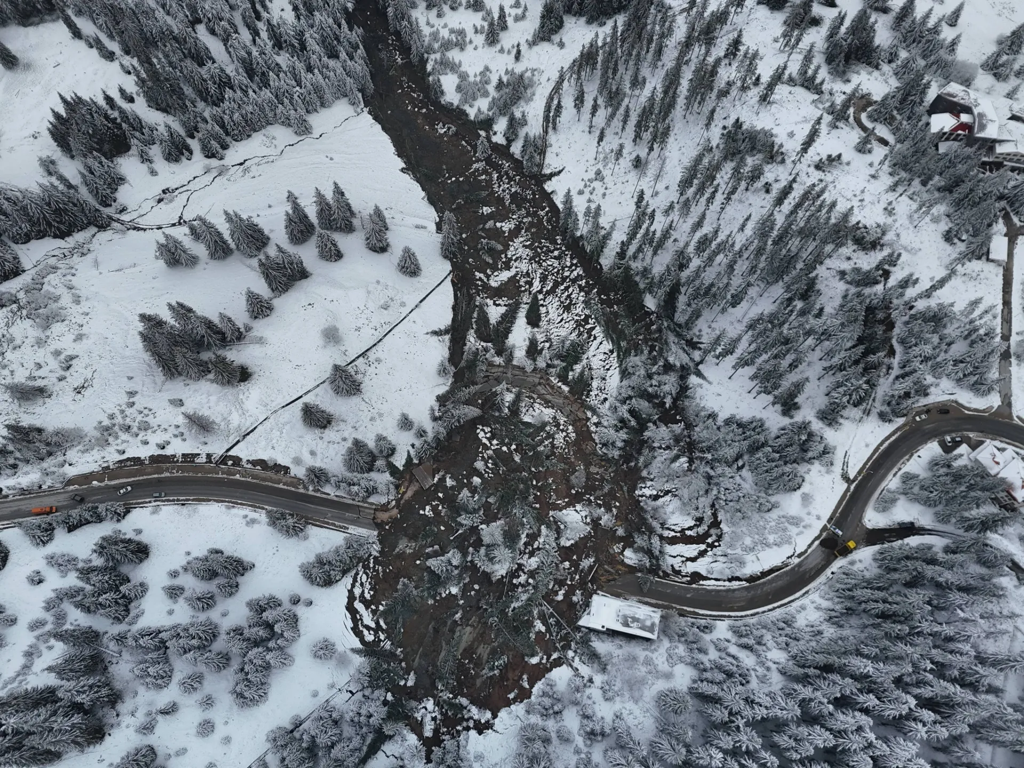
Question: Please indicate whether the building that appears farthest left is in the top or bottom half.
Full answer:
The building that appears farthest left is in the bottom half of the image.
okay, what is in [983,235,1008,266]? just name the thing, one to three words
building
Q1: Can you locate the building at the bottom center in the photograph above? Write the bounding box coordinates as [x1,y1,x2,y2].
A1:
[577,594,661,640]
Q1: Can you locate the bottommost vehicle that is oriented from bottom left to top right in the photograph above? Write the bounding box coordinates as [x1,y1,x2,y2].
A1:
[835,540,859,559]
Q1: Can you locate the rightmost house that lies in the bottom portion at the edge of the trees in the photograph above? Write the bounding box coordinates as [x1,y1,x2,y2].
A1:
[948,441,1024,513]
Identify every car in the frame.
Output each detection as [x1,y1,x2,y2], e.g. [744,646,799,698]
[68,492,84,503]
[938,407,952,413]
[945,434,955,448]
[150,491,166,498]
[115,484,132,495]
[916,412,929,421]
[829,525,843,537]
[953,437,966,443]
